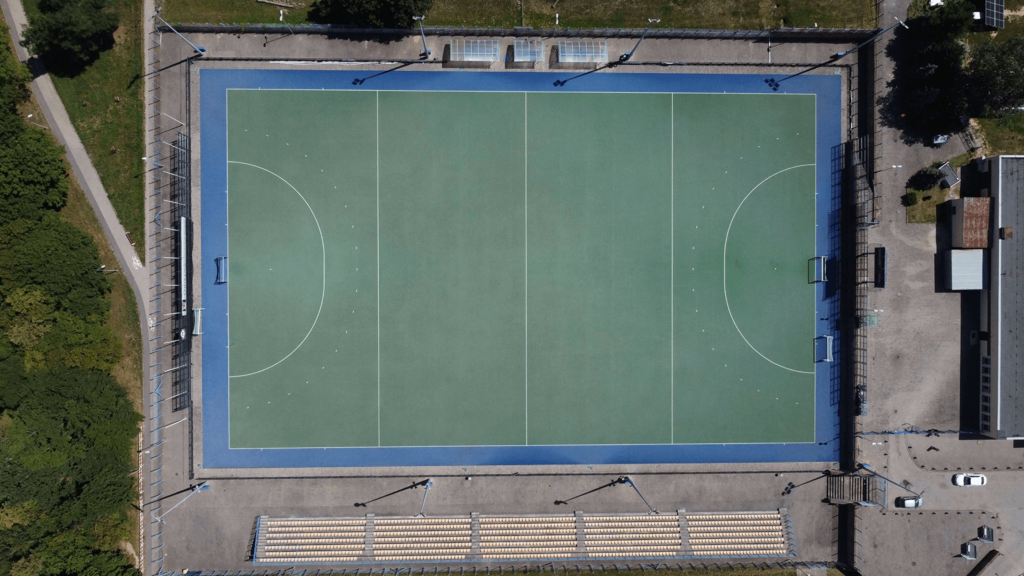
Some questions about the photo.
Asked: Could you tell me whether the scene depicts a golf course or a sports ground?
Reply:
sports ground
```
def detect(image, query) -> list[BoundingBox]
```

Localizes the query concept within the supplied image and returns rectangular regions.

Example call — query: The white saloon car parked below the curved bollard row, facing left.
[957,473,989,489]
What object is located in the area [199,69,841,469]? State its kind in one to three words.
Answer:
sports field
